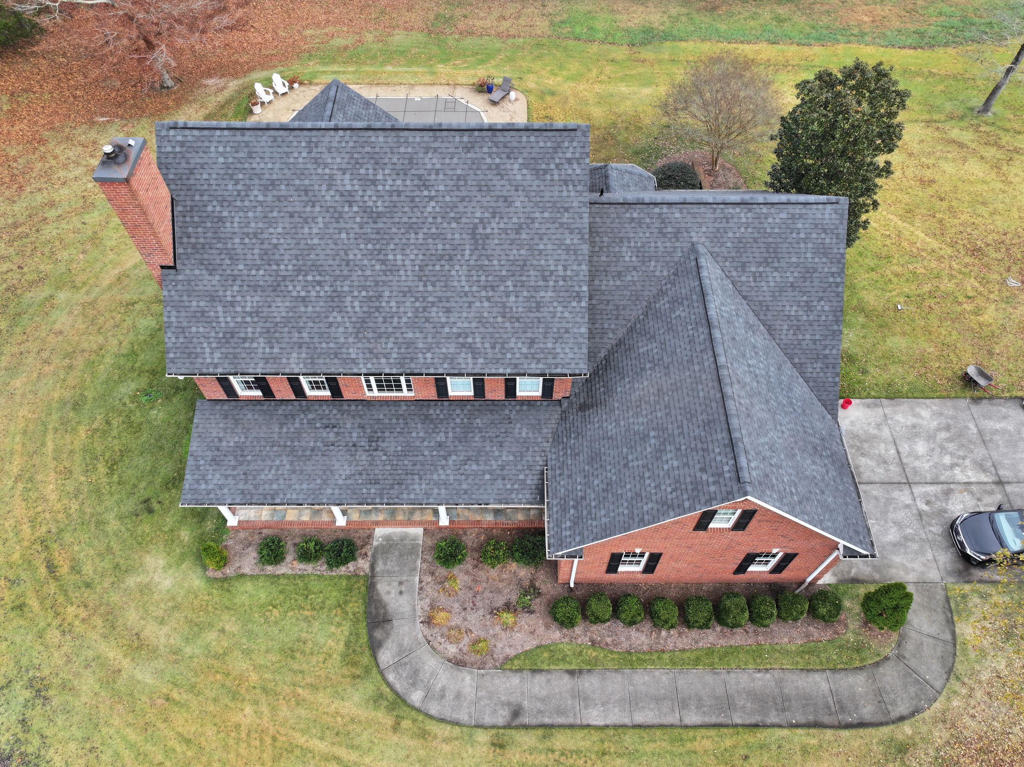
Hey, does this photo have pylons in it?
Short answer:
No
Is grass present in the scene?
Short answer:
Yes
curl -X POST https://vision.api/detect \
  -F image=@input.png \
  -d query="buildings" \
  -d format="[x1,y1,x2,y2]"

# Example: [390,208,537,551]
[93,79,884,596]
